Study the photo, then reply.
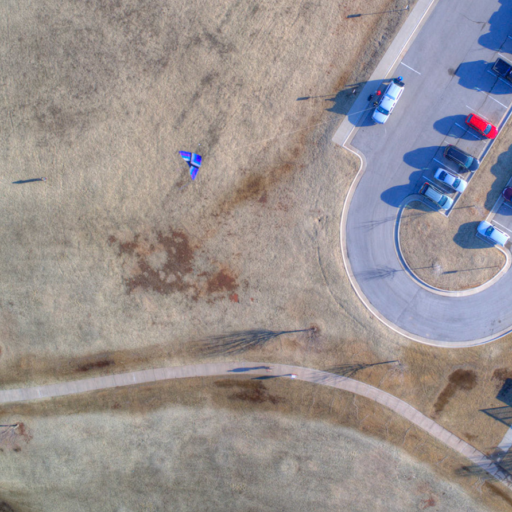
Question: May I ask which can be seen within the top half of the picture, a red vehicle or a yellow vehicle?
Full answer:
The feature located within the top half of the picture is a red vehicle.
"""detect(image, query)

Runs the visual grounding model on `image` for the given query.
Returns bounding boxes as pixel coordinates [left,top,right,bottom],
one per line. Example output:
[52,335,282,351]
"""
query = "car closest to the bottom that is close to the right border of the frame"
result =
[475,219,512,248]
